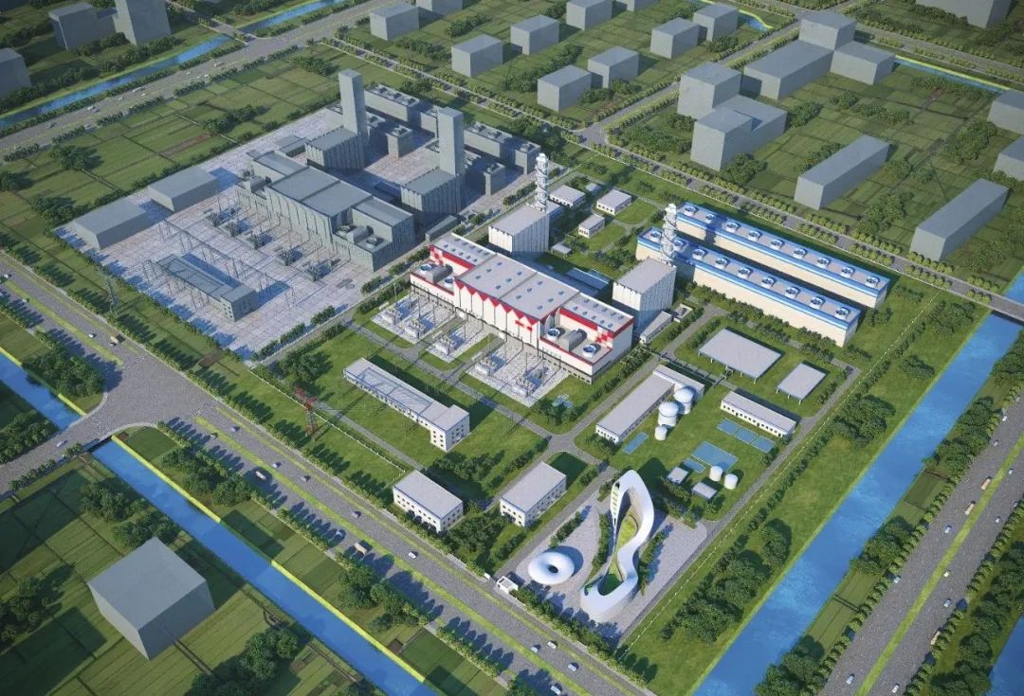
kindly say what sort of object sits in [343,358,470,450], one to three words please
building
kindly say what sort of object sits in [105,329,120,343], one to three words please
vehicle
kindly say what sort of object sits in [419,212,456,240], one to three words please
shed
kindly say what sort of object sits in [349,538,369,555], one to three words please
vehicle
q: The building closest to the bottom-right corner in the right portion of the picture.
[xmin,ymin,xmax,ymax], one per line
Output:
[720,391,796,440]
